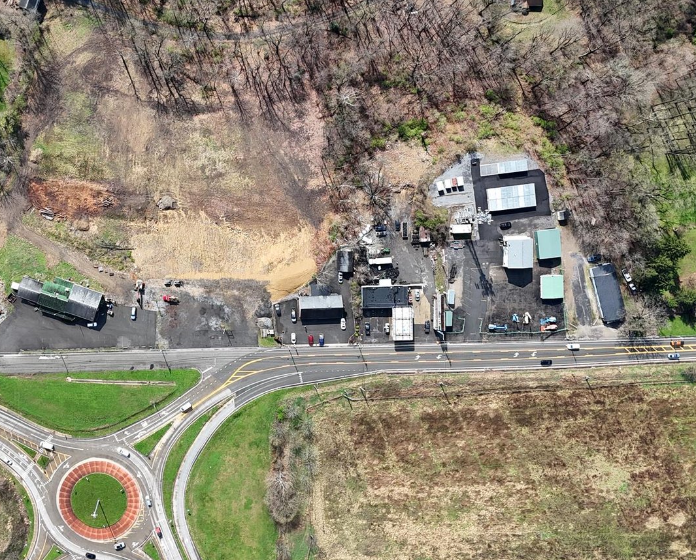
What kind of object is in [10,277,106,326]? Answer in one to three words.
building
